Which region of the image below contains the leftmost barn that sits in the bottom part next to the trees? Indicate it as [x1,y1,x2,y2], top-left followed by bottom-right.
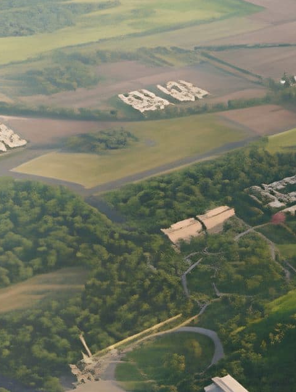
[163,220,205,252]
